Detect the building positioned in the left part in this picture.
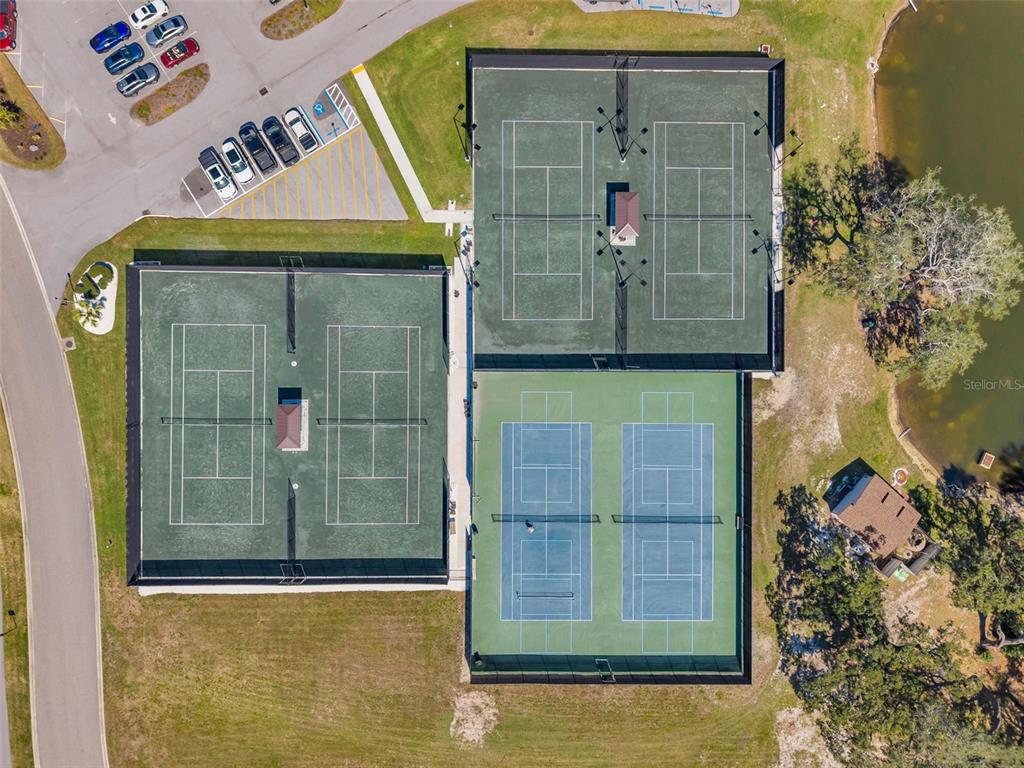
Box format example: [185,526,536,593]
[277,399,308,451]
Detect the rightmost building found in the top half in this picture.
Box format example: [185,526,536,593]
[610,192,640,246]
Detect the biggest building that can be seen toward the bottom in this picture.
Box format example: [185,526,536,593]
[833,474,921,557]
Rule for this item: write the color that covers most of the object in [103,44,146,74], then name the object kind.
blue car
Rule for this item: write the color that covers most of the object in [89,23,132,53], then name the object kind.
blue car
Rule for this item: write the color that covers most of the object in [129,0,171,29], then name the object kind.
white car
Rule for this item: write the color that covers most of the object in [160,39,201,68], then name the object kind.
red car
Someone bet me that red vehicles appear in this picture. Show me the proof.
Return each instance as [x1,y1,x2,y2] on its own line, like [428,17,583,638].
[0,0,18,49]
[160,39,201,68]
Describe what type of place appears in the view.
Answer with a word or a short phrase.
sports ground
